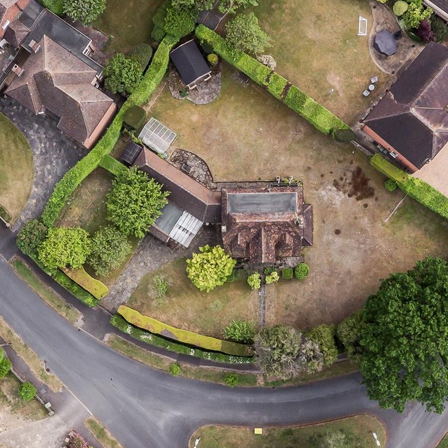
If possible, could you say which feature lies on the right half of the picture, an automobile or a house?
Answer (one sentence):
What appears on the right half of the picture is a house.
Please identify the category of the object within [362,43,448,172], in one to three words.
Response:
house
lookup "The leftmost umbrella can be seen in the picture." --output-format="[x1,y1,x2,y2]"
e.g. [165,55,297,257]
[371,30,398,56]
